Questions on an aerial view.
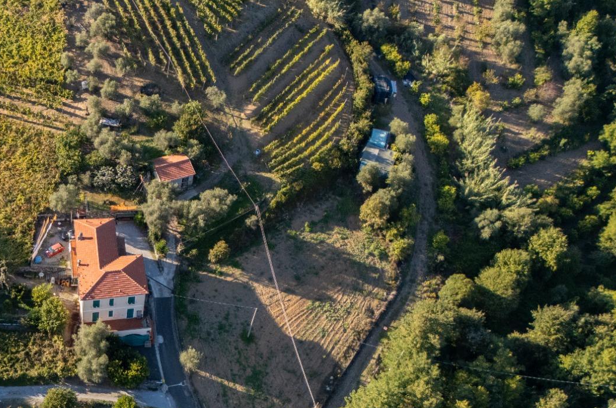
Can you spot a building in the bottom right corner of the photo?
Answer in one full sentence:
No, I can find no building in the bottom right corner of the photo.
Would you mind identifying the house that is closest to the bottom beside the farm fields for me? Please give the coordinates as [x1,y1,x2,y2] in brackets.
[63,215,150,355]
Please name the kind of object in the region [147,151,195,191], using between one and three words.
shed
